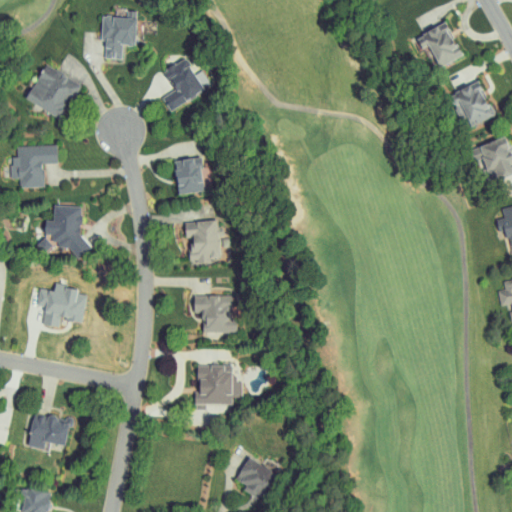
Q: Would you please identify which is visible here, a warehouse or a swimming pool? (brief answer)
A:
swimming pool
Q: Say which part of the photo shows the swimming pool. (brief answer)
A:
bottom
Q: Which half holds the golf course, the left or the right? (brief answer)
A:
right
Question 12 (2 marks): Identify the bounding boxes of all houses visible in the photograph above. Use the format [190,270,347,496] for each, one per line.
[470,134,512,182]
[450,80,500,132]
[26,64,83,120]
[23,414,74,456]
[17,489,54,512]
[46,206,94,262]
[161,60,210,112]
[196,364,243,405]
[12,146,58,188]
[175,158,206,196]
[415,19,467,69]
[236,456,273,500]
[184,216,230,264]
[194,294,238,333]
[37,282,87,328]
[500,280,512,320]
[102,11,138,60]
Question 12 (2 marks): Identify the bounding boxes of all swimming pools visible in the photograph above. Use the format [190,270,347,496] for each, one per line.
[244,366,270,396]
